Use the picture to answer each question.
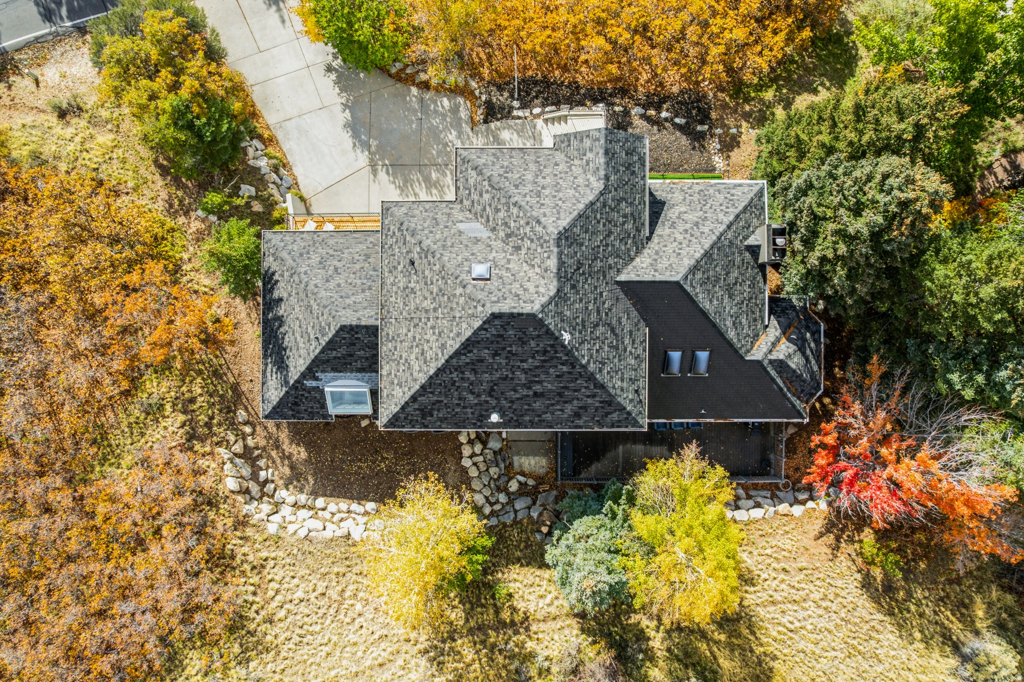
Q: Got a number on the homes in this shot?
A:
1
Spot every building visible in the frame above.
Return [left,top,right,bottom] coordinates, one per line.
[261,124,826,431]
